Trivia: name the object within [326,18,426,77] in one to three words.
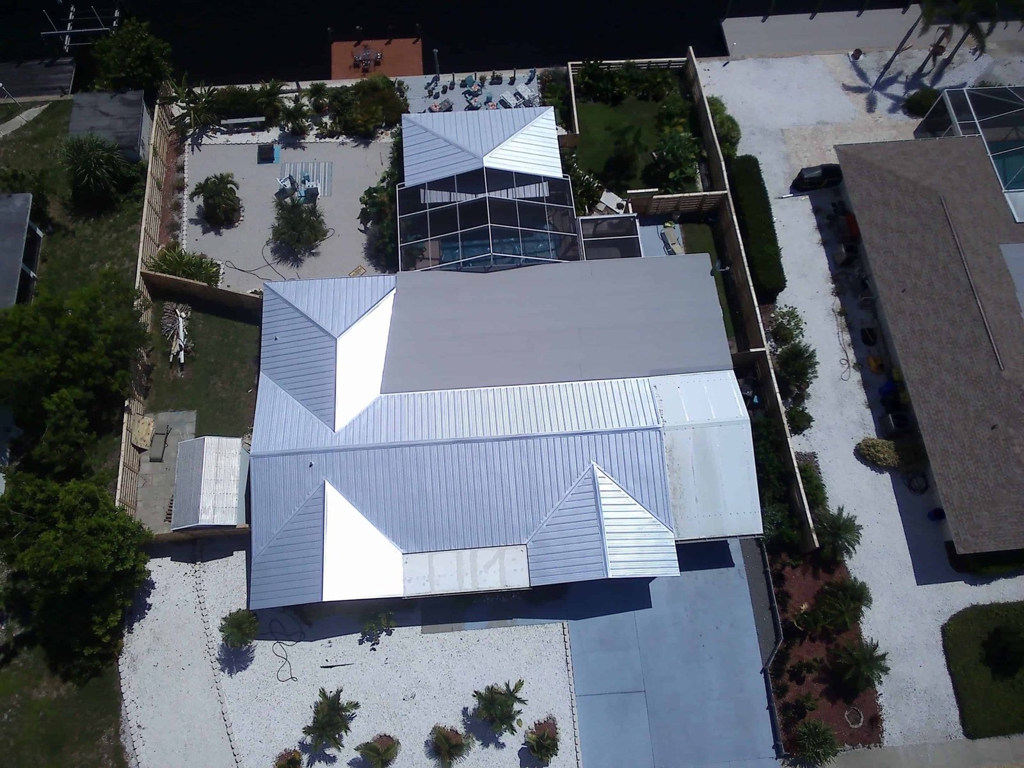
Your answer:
pier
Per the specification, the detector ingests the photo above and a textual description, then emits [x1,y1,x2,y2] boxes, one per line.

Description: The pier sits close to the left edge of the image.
[0,40,77,93]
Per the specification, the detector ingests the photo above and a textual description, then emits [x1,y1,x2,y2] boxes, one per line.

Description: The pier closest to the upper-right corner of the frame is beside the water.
[716,0,1024,56]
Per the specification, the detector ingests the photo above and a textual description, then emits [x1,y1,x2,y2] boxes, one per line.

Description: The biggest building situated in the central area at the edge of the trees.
[246,252,765,610]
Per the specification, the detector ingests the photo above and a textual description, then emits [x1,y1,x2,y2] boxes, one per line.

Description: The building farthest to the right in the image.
[837,136,1024,556]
